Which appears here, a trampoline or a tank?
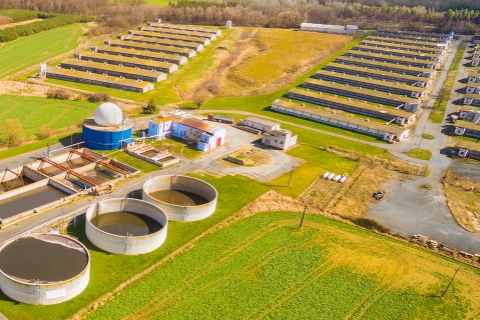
tank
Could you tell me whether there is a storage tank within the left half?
Yes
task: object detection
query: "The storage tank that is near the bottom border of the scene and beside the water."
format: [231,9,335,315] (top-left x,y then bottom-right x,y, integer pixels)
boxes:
[0,229,89,304]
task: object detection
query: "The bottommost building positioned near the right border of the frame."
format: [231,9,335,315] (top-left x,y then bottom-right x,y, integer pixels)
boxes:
[450,136,480,158]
